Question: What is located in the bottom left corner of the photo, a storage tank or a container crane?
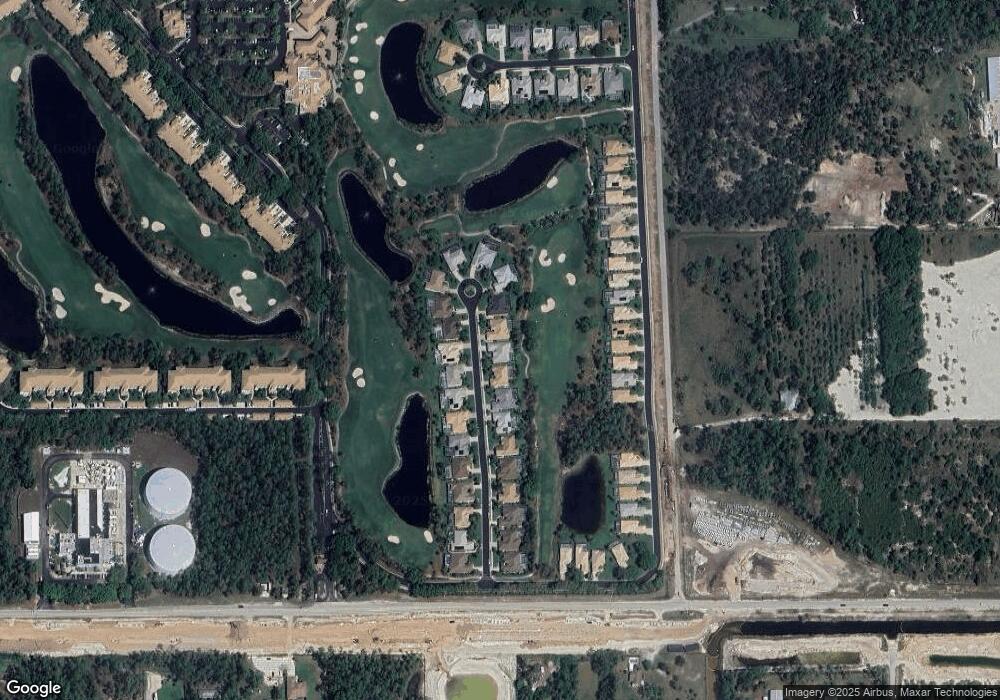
storage tank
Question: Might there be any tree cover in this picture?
Yes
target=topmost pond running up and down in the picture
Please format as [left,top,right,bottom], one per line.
[381,22,442,124]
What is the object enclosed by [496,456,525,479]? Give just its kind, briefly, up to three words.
house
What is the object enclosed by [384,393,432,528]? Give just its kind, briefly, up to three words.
pond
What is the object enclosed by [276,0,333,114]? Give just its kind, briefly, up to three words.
building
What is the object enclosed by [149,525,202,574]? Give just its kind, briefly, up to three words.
storage tank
